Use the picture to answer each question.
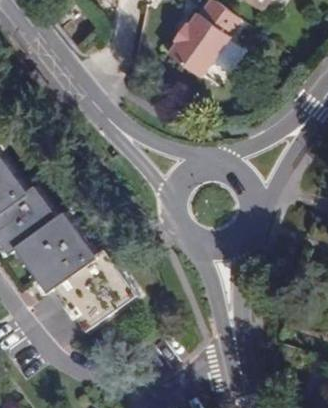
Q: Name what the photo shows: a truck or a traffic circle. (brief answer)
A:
traffic circle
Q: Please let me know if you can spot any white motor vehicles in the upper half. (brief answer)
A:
No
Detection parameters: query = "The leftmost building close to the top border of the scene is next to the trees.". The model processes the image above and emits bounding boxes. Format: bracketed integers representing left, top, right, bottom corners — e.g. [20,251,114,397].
[168,0,248,79]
